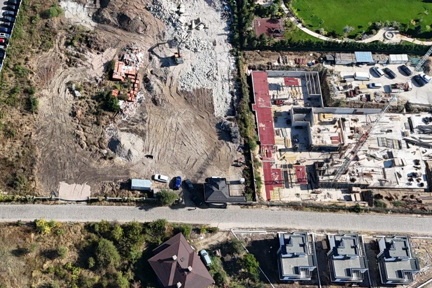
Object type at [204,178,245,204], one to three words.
house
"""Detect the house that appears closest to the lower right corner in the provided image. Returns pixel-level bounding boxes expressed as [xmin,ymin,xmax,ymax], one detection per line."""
[371,236,417,287]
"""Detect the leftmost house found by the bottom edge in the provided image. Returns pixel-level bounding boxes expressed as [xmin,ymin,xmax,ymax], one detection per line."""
[148,233,214,288]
